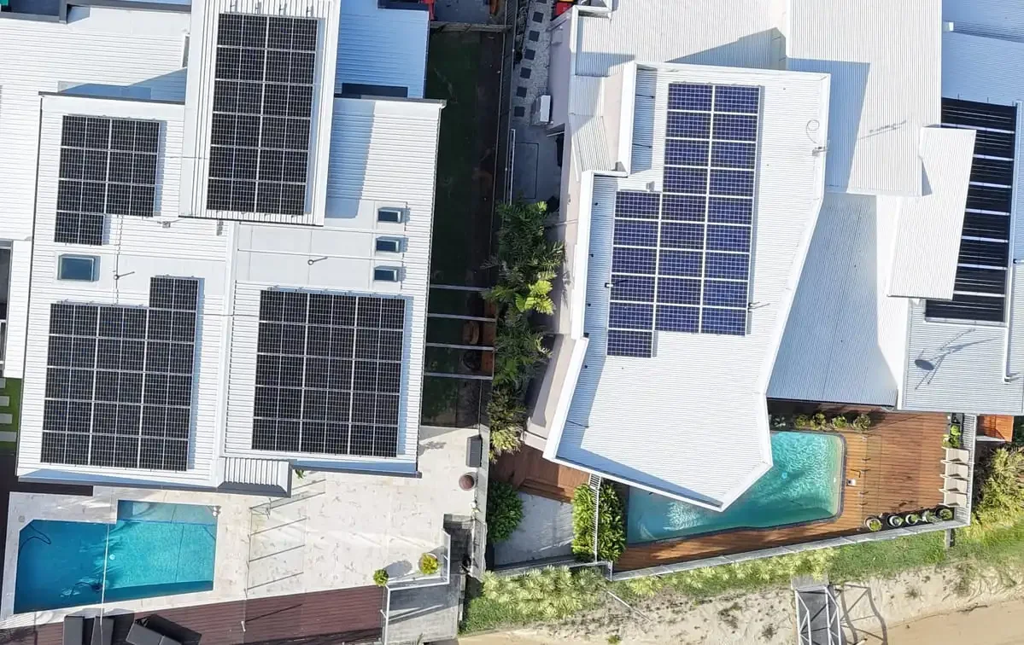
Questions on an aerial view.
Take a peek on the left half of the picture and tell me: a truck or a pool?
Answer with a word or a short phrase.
pool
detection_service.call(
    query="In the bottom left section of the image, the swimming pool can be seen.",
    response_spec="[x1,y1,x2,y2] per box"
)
[21,500,218,608]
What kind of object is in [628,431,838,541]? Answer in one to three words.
swimming pool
